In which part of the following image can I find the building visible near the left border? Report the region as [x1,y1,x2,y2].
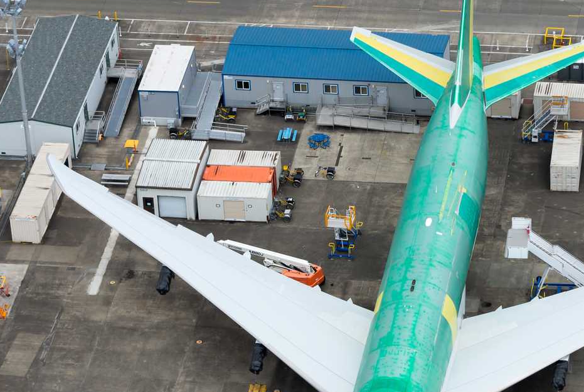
[0,10,119,159]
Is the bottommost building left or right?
left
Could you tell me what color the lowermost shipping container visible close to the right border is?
white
